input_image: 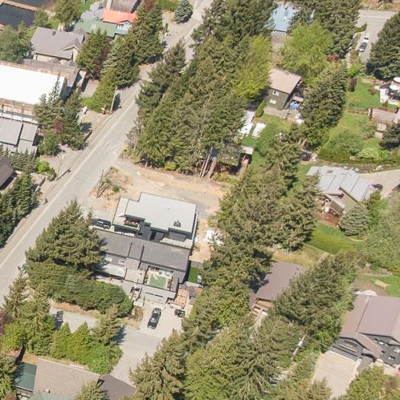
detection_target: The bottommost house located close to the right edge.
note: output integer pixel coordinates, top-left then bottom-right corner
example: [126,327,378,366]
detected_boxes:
[326,294,400,371]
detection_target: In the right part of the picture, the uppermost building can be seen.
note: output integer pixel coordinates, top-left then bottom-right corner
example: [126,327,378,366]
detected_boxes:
[264,5,301,45]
